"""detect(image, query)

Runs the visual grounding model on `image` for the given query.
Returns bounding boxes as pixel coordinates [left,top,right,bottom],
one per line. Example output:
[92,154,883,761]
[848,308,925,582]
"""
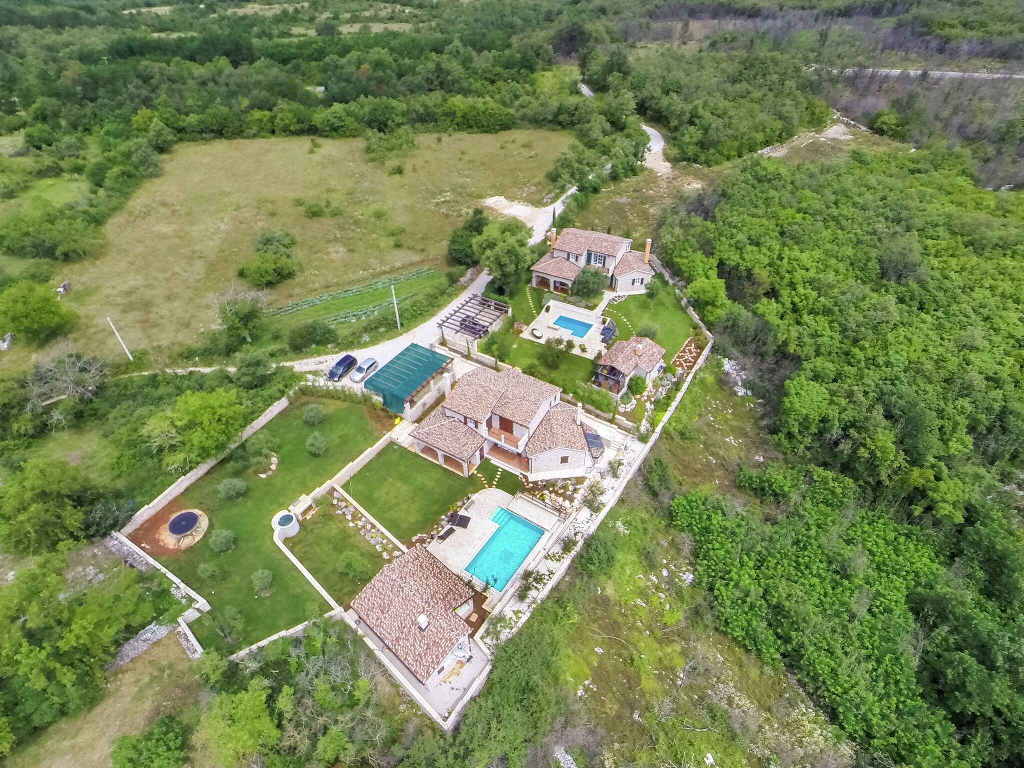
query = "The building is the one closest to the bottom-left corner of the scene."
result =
[351,544,475,689]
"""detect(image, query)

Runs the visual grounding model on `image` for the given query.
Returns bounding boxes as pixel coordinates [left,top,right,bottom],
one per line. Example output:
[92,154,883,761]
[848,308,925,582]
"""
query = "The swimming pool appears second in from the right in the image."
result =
[459,502,547,596]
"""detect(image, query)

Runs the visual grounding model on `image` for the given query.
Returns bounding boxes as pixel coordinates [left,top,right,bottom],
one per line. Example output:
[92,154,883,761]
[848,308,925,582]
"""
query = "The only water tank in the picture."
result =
[272,510,298,538]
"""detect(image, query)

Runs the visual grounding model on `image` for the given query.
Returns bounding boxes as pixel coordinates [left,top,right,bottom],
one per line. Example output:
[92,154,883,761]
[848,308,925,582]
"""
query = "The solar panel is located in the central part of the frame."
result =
[582,427,603,445]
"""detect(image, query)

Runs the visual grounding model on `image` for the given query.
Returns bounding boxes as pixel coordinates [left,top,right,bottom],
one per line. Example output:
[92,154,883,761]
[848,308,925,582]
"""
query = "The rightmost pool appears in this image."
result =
[550,313,596,340]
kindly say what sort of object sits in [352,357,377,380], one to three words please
car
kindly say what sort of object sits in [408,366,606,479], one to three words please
house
